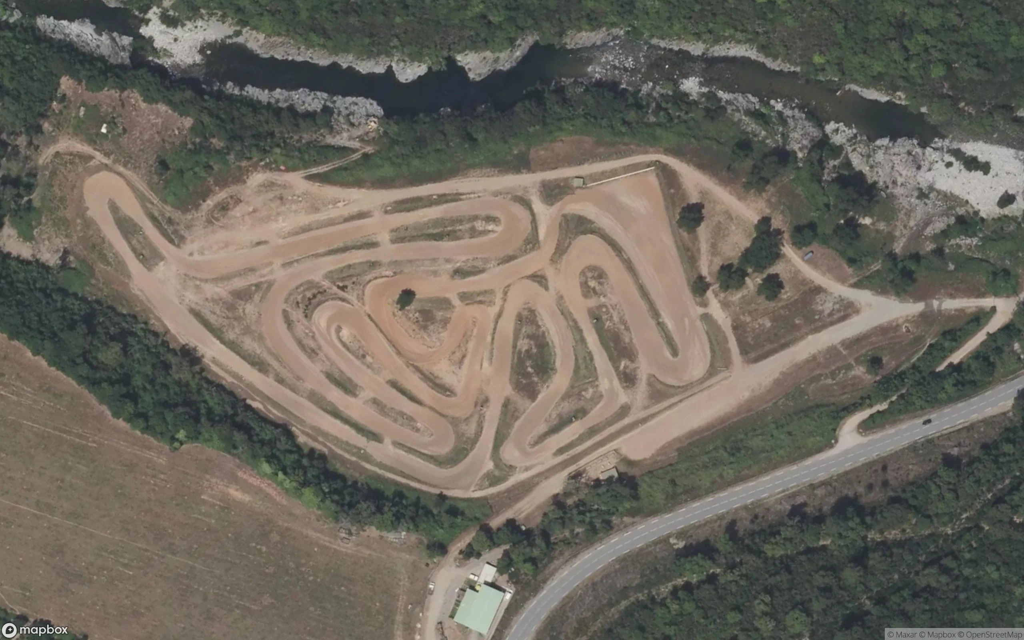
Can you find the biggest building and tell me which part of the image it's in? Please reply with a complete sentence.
Look in the bottom portion of the view to spot the biggest building.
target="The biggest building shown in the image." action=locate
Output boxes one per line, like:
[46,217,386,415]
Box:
[454,585,505,635]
